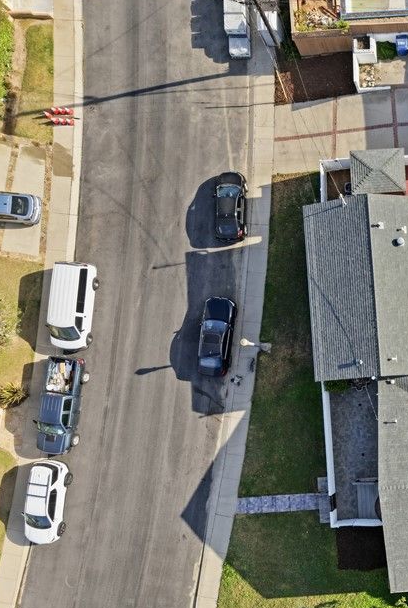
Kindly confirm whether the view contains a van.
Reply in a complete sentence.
Yes, the picture does show a van.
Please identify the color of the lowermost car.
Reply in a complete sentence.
In this view, the lowermost car is white.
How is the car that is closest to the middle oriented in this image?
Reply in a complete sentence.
The car that is closest to the middle is oriented up and down.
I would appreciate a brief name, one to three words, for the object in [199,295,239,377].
car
